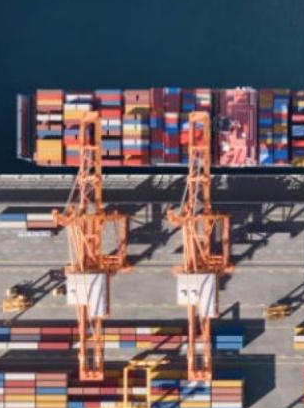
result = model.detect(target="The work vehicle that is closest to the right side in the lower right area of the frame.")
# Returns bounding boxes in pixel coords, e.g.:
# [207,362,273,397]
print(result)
[265,302,293,318]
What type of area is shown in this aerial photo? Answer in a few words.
port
